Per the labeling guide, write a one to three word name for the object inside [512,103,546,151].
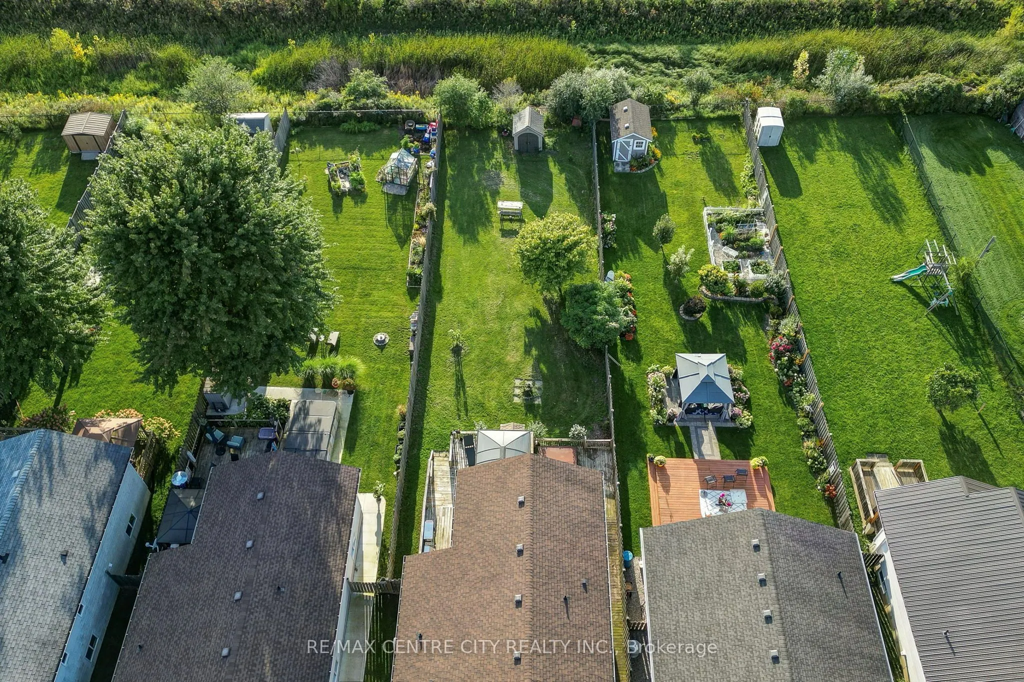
shed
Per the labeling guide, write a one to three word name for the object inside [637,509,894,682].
house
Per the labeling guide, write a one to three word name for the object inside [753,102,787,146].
shed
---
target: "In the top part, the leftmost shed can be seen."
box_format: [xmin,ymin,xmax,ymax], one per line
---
[58,98,118,152]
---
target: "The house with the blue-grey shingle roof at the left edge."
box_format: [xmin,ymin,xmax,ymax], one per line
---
[0,429,151,682]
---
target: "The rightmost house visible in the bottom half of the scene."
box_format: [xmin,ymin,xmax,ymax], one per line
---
[868,476,1024,682]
